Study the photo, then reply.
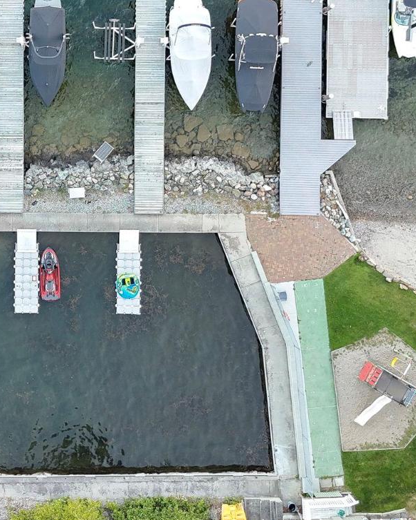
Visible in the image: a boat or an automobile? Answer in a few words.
boat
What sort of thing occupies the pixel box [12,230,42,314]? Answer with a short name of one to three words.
pier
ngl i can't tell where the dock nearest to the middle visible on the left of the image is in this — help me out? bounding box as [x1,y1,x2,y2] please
[115,230,144,316]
